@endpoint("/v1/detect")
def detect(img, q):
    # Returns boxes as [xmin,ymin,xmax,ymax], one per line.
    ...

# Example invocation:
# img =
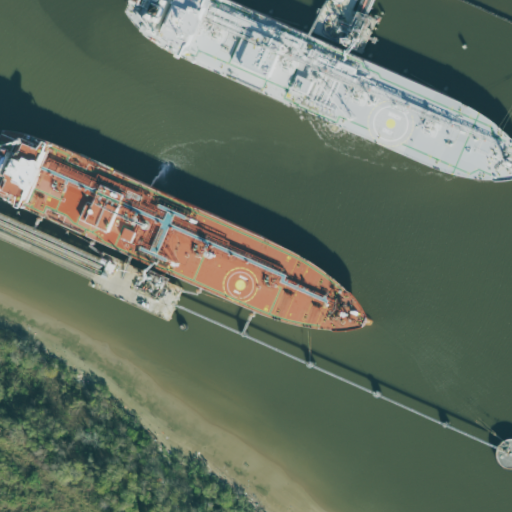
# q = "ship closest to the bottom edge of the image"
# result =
[0,130,374,331]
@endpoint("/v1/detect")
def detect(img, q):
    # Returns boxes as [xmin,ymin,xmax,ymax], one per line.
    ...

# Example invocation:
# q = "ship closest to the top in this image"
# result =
[120,0,512,182]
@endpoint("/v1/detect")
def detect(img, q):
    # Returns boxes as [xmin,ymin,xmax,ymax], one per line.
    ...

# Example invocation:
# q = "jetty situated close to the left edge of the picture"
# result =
[0,213,183,320]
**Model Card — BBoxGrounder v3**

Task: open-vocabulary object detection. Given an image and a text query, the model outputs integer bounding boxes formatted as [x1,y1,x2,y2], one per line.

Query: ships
[120,0,512,182]
[0,130,374,331]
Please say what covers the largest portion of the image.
water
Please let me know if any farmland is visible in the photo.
No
